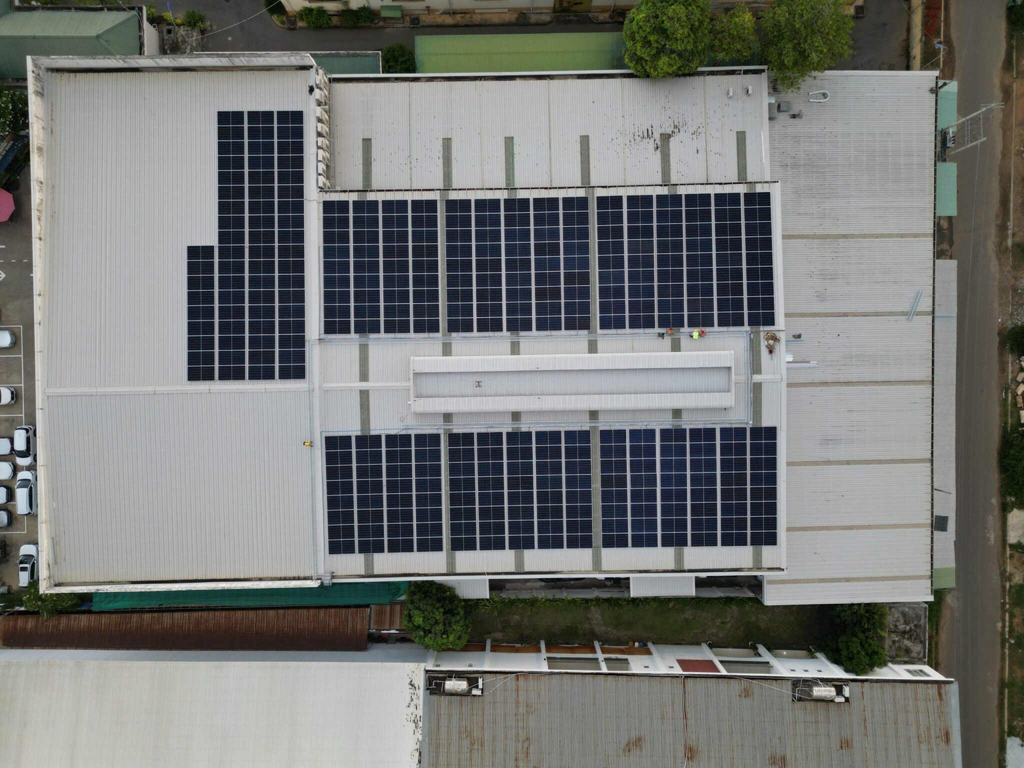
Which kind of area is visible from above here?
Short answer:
industrial area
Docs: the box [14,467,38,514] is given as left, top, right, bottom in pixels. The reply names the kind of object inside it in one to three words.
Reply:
car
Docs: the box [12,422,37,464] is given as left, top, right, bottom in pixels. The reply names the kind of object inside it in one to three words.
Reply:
car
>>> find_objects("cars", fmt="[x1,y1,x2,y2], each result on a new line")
[0,485,12,504]
[0,330,18,349]
[12,422,37,464]
[15,542,40,589]
[14,467,38,514]
[0,461,17,480]
[0,508,13,528]
[0,384,19,407]
[0,436,15,456]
